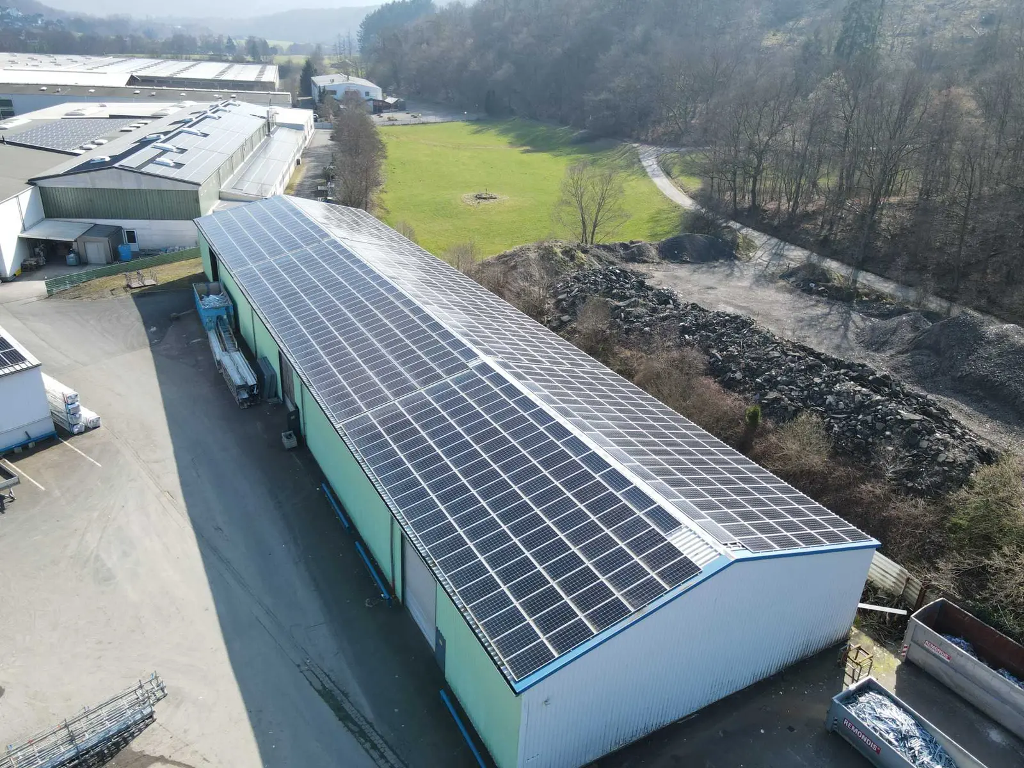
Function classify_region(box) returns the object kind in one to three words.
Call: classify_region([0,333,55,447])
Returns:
shed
